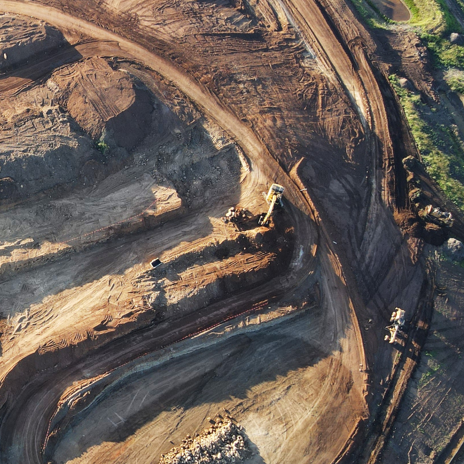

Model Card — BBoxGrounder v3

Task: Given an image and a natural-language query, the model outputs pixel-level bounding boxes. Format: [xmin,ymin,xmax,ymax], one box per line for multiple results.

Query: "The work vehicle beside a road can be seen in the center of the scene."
[262,178,288,223]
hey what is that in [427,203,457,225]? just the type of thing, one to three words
work vehicle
